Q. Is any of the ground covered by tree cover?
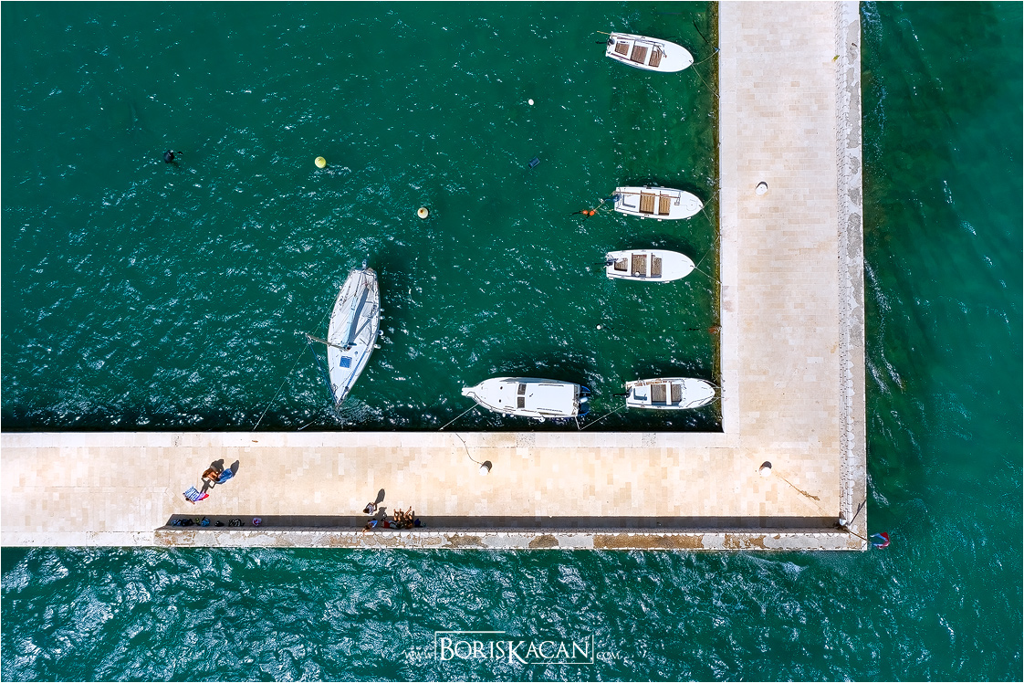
No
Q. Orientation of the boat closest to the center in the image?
from left to right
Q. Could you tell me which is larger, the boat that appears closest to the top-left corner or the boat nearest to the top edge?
the boat that appears closest to the top-left corner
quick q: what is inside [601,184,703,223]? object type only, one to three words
boat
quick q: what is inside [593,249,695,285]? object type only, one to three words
boat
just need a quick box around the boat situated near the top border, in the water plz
[594,29,693,73]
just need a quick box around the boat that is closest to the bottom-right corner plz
[610,376,720,410]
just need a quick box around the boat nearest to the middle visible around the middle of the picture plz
[461,377,594,425]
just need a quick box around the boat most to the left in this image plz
[302,261,381,407]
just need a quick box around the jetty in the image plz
[0,0,840,547]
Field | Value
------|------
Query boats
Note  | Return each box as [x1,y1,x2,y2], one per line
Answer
[593,249,695,285]
[601,184,703,223]
[594,29,693,73]
[461,377,594,425]
[302,261,381,407]
[610,376,720,410]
